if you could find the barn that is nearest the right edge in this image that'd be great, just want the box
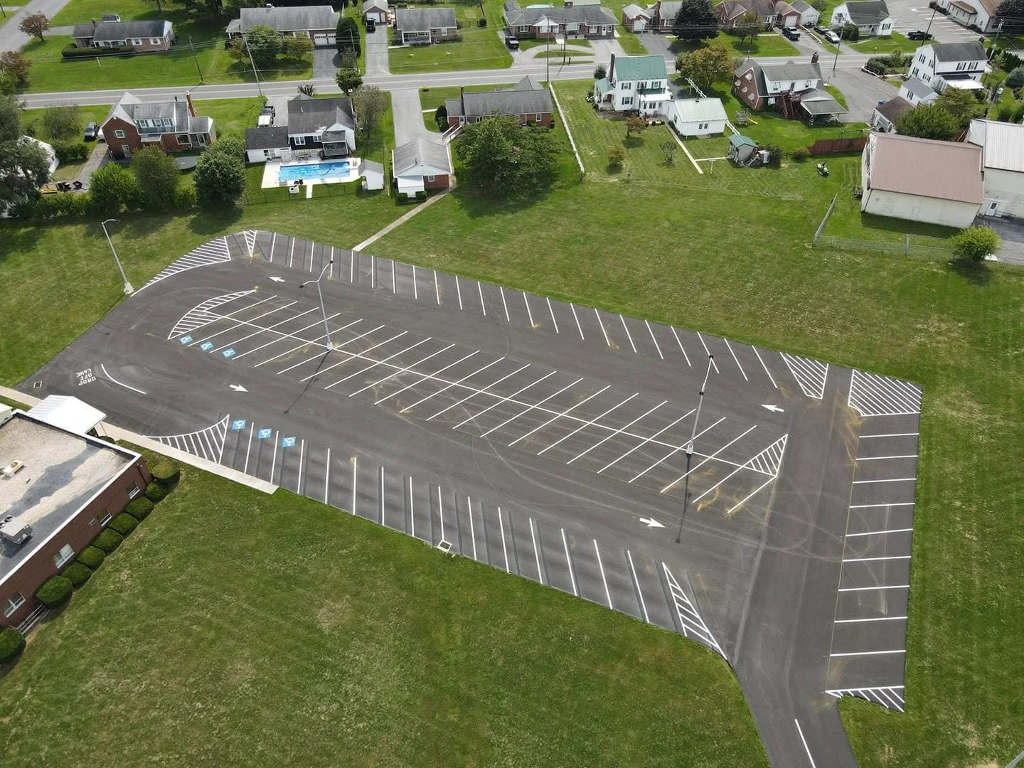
[968,127,1024,225]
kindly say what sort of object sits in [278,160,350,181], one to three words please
swimming pool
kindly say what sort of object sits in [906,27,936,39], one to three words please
vehicle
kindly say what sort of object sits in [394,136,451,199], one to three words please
building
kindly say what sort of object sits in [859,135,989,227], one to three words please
barn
